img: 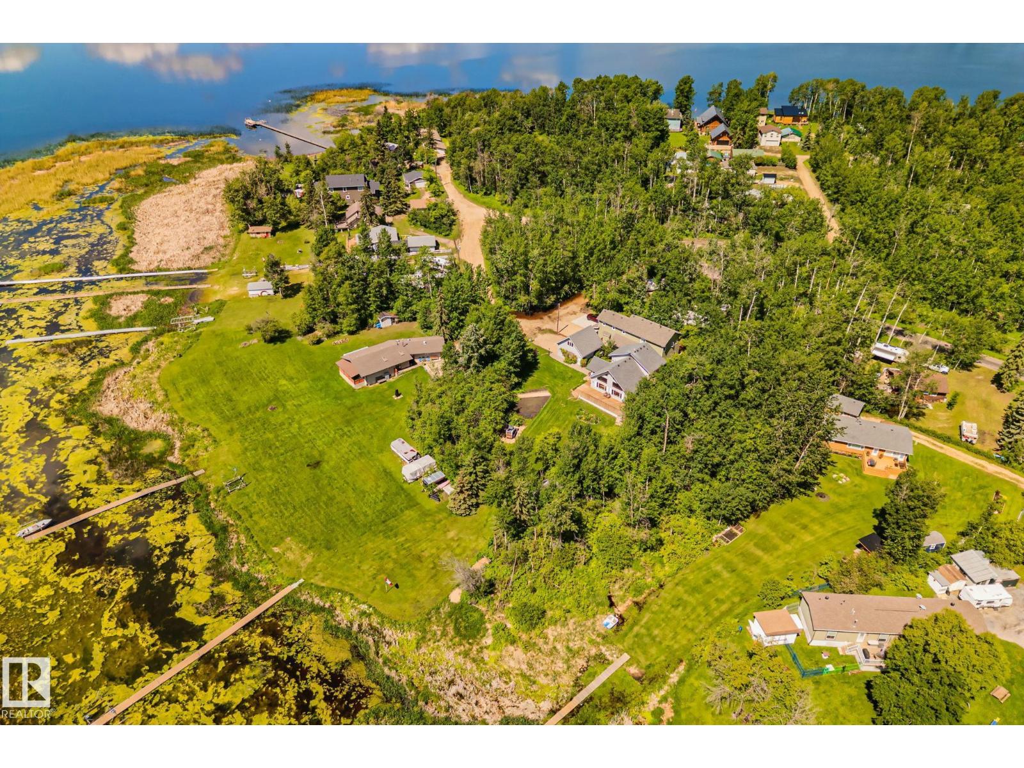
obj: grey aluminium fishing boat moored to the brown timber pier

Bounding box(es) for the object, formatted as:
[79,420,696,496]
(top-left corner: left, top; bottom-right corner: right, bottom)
[13,518,53,539]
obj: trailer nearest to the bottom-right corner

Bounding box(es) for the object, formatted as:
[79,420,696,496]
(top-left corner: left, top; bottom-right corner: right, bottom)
[961,584,1012,612]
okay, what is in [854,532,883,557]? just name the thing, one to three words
gazebo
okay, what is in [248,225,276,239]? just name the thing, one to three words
building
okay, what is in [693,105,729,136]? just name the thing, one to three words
house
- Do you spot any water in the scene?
Yes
